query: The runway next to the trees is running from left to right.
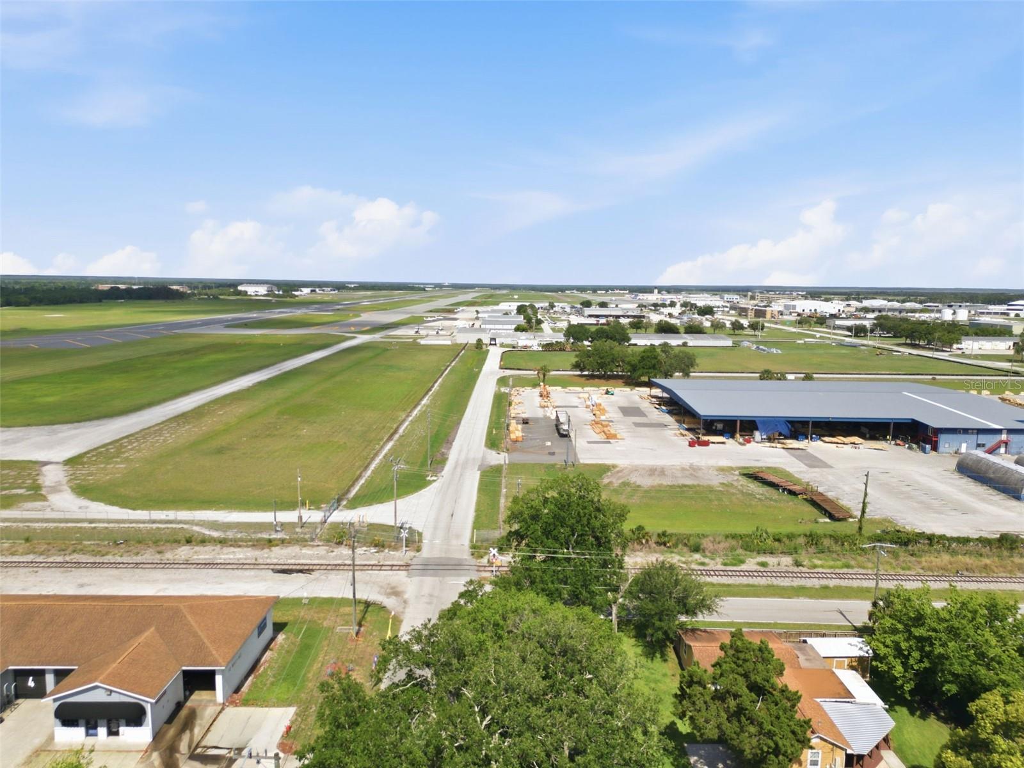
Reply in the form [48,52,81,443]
[0,289,472,348]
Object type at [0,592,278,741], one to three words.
building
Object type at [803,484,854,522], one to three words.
trailer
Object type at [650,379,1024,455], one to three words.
shed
